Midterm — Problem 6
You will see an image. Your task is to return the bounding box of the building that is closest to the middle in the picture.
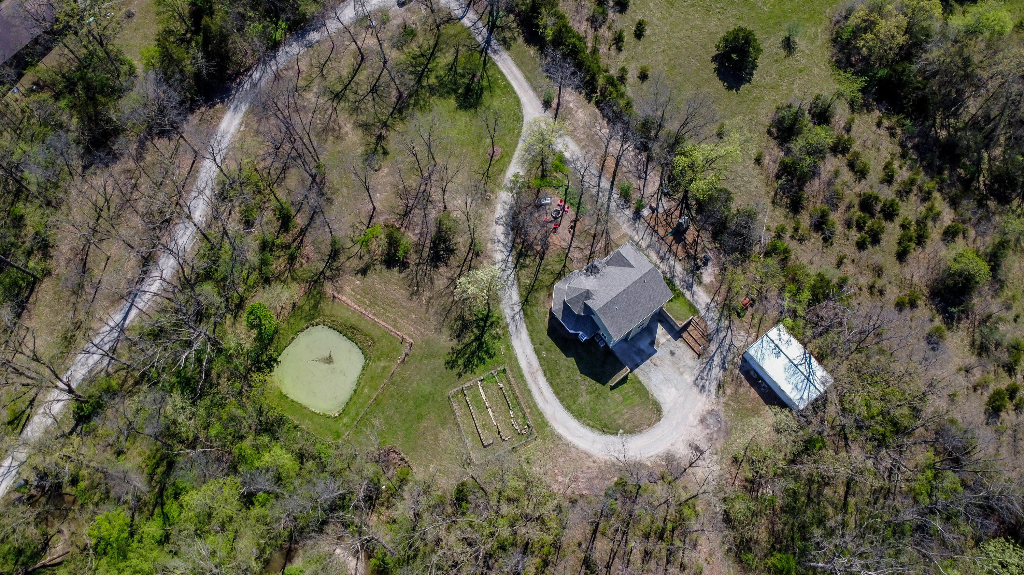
[552,240,674,348]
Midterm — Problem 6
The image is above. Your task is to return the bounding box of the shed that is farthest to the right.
[743,323,833,411]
